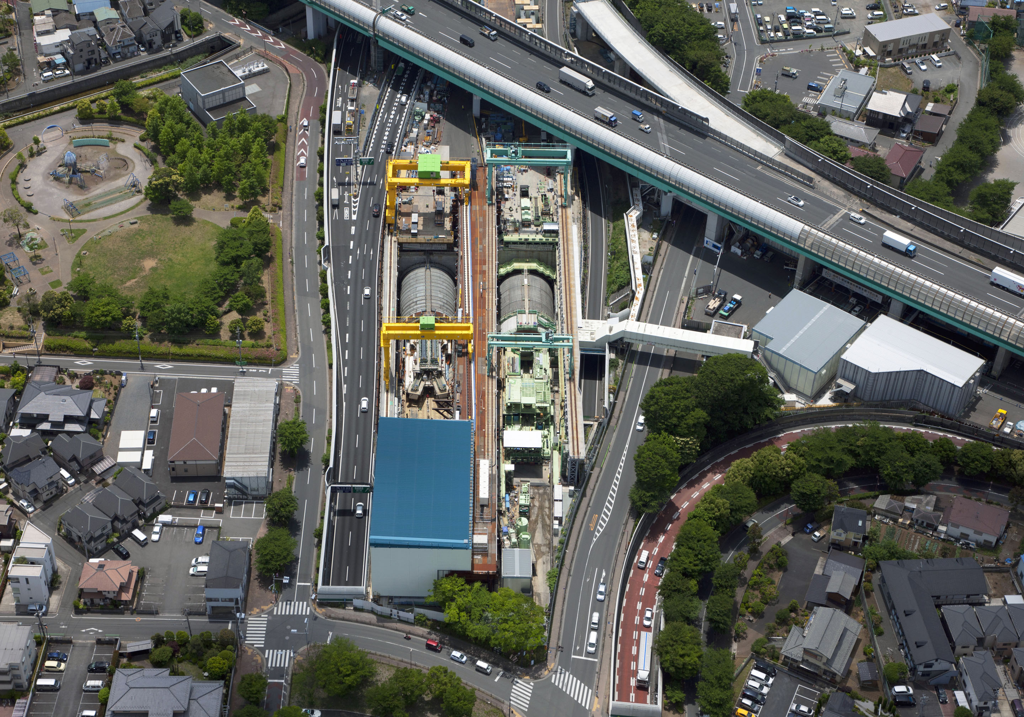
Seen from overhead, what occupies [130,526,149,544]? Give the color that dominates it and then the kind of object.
white vehicle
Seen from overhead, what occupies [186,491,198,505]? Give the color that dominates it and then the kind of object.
blue vehicle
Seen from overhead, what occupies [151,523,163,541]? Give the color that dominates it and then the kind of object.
white vehicle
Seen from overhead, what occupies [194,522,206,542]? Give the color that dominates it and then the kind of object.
blue vehicle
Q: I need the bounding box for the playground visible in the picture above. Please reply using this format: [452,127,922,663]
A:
[17,137,155,219]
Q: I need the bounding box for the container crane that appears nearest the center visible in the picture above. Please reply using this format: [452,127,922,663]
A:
[483,312,578,383]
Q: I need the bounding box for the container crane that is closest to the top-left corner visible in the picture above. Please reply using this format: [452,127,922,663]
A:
[379,151,474,236]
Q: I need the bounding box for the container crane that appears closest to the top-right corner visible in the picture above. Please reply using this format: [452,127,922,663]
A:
[485,138,573,211]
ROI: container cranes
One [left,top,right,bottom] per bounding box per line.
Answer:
[483,312,578,383]
[379,151,474,236]
[379,314,476,395]
[485,138,573,211]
